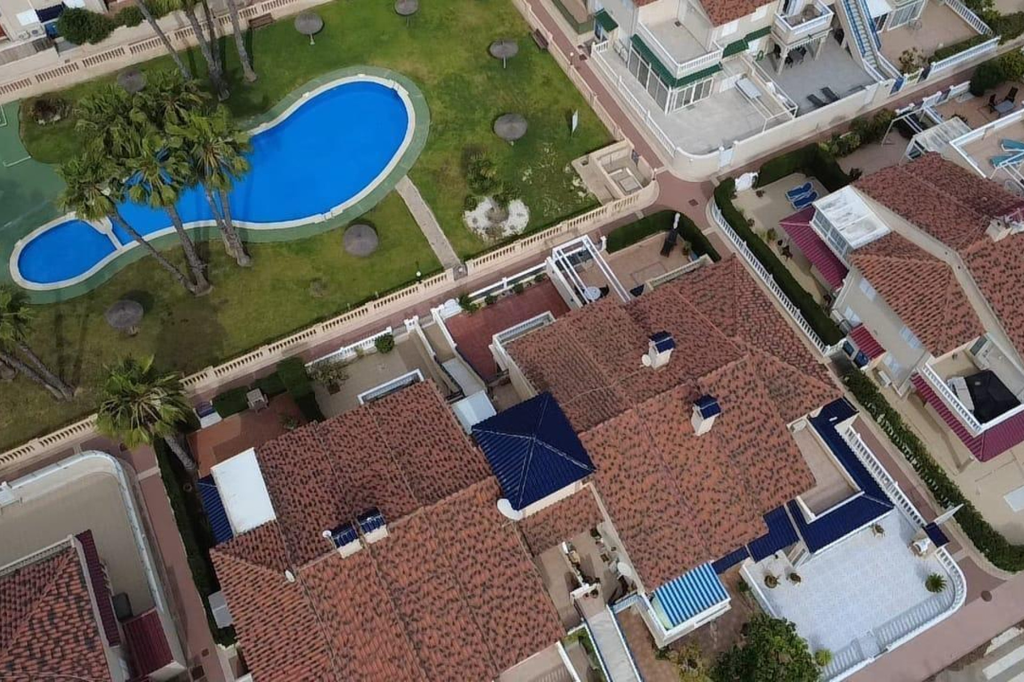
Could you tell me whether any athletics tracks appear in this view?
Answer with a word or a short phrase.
No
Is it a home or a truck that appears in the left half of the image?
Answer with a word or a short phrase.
home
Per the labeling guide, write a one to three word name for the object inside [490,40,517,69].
umbrella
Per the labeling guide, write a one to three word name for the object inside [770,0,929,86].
house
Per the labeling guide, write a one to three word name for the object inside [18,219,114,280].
swimming pool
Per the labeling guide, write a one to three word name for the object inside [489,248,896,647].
house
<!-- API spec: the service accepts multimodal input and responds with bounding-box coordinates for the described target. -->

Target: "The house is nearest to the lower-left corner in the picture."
[0,523,187,682]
